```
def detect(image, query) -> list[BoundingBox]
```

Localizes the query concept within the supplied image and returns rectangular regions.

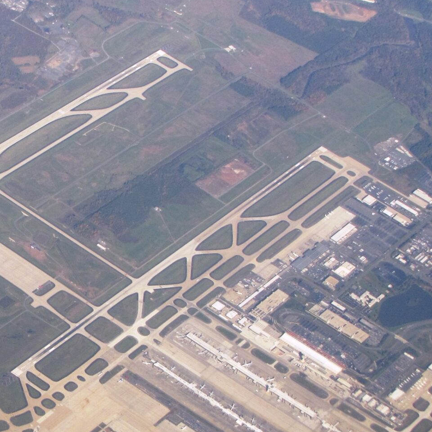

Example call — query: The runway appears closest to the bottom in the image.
[14,146,325,375]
